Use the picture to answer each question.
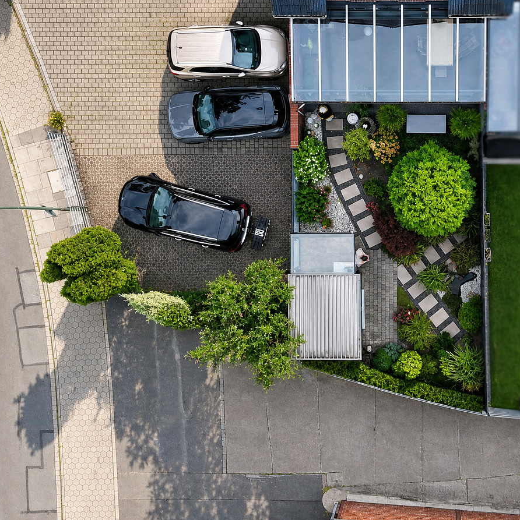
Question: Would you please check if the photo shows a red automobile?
No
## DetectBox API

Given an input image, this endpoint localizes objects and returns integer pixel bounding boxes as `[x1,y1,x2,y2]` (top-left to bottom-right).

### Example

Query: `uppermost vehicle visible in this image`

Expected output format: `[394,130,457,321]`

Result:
[170,14,287,78]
